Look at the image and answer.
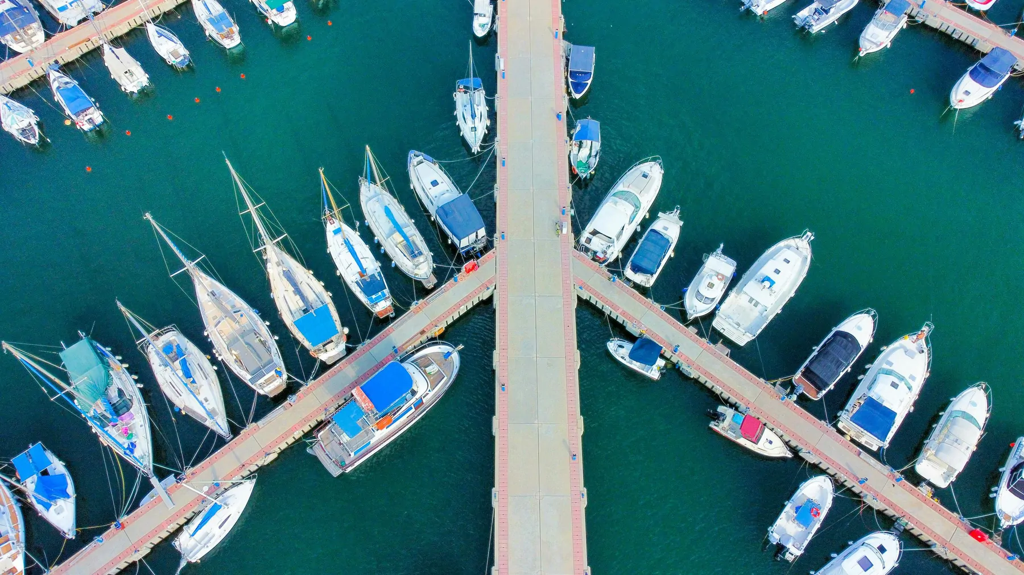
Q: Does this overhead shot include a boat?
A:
Yes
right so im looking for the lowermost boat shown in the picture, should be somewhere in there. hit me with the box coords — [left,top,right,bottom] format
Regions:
[810,535,908,575]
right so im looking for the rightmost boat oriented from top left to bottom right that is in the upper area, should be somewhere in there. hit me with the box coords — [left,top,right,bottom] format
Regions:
[408,144,490,259]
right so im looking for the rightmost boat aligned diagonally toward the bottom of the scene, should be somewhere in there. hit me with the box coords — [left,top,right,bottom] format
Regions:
[911,378,995,491]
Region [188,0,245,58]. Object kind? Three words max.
boat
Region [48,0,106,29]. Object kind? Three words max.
boat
